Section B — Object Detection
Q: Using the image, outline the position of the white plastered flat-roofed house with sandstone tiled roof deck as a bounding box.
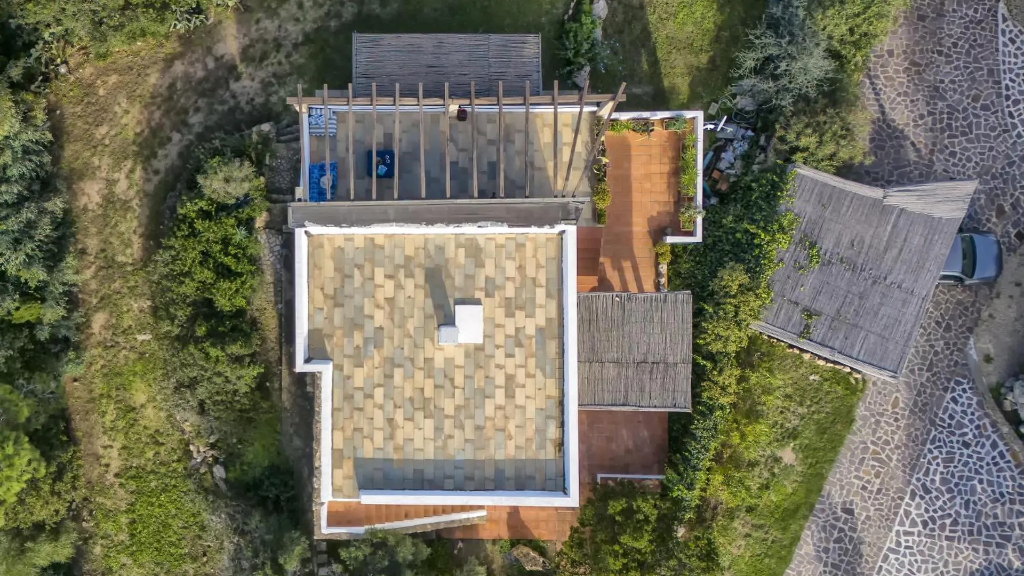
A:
[288,197,591,505]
